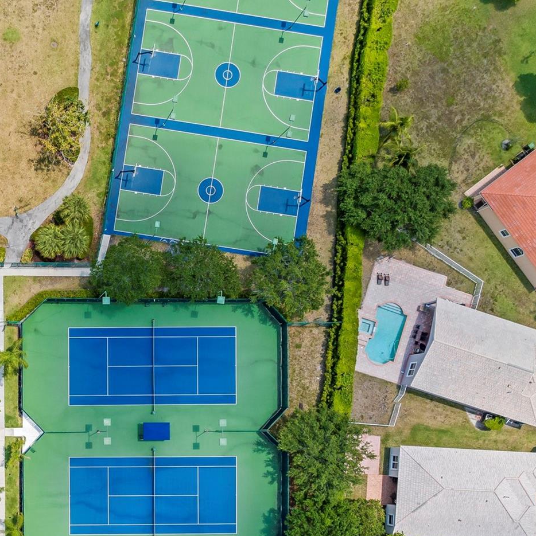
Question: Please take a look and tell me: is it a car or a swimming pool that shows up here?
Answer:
swimming pool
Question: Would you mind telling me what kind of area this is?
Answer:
sports ground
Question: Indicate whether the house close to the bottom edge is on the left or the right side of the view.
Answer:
right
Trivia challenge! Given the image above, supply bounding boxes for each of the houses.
[387,445,536,536]
[474,149,536,283]
[404,297,536,427]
